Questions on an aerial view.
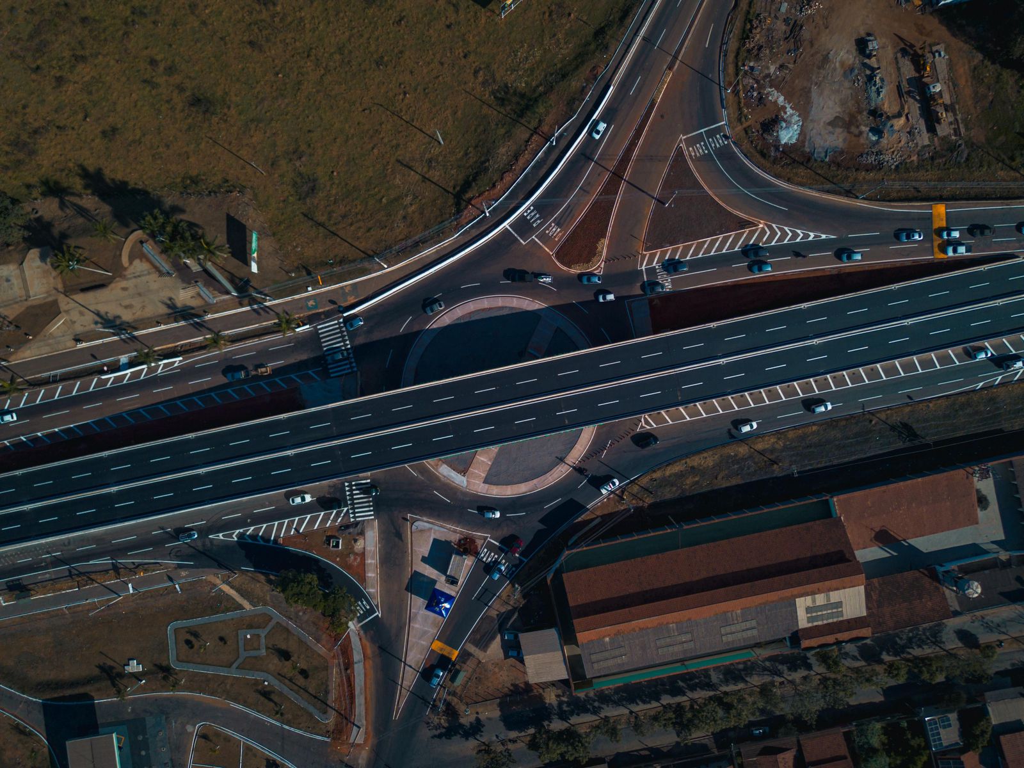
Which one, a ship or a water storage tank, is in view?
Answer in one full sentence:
There is a water storage tank in the scene.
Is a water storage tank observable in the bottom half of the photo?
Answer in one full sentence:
Yes, in the bottom half of the photo there is a water storage tank.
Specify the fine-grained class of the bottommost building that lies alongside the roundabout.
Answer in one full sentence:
Specifically, the bottommost building that lies alongside the roundabout is a warehouse.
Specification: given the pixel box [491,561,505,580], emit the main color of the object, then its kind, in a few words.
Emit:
blue car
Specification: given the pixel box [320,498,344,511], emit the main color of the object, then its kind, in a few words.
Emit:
black vehicle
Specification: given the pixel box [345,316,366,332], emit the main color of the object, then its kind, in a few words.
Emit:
blue car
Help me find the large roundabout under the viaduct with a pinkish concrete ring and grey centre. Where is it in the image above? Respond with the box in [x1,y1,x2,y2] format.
[398,294,595,497]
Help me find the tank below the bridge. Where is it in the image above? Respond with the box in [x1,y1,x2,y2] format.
[924,563,981,597]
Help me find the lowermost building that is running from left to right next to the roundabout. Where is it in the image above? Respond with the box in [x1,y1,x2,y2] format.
[562,513,872,678]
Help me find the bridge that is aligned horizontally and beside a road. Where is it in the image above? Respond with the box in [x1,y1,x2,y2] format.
[0,256,1024,551]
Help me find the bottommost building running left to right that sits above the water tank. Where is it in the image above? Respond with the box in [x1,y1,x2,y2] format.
[826,468,979,551]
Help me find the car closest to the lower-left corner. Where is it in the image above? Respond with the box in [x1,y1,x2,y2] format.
[178,530,199,542]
